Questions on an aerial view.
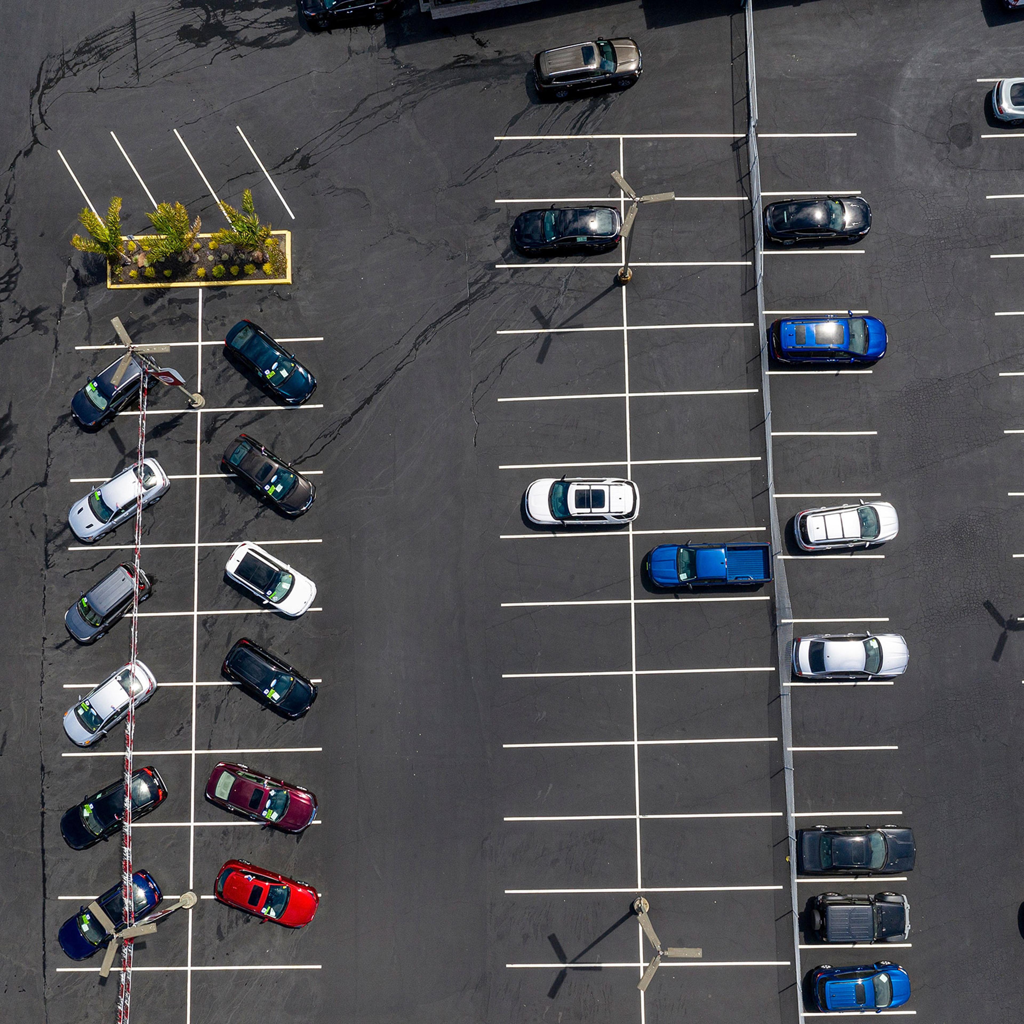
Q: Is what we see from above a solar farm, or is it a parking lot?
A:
parking lot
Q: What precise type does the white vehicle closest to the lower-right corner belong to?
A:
car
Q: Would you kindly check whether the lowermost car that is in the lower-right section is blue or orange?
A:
blue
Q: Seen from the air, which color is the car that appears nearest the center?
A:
white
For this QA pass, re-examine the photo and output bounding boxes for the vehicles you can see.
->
[218,638,315,720]
[992,80,1024,128]
[533,35,643,99]
[223,317,316,405]
[205,760,315,835]
[648,537,774,591]
[213,858,315,928]
[811,894,913,946]
[296,0,401,27]
[814,961,911,1019]
[220,435,313,515]
[525,471,640,526]
[770,308,889,364]
[69,457,171,540]
[793,628,908,683]
[73,350,161,430]
[66,560,153,641]
[224,539,314,615]
[764,188,871,241]
[68,662,159,743]
[795,496,899,553]
[798,823,916,878]
[511,200,622,252]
